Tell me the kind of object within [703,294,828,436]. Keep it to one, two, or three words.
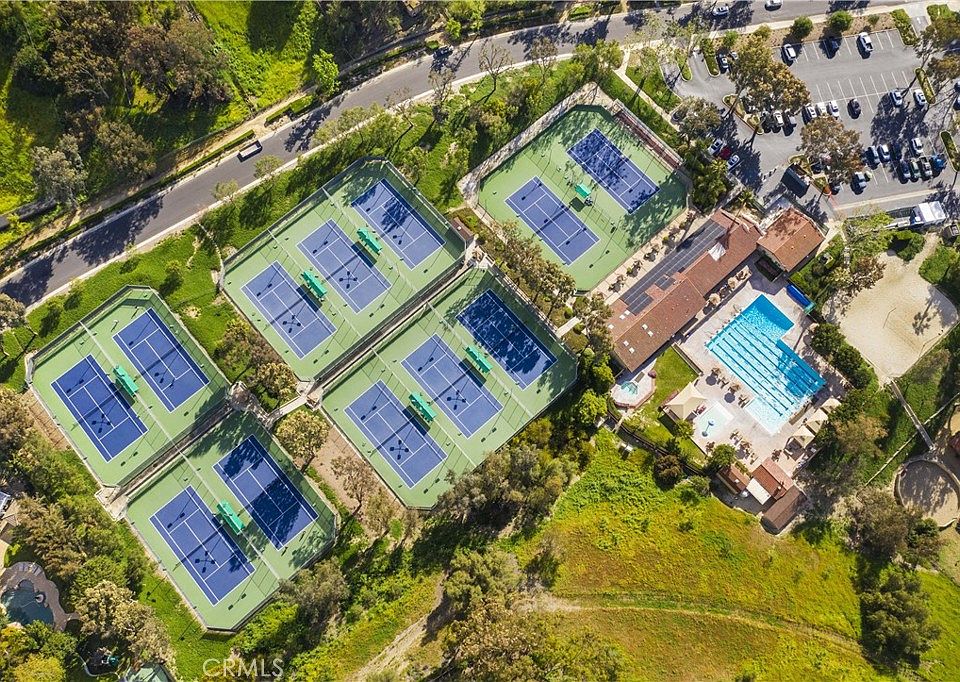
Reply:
swimming pool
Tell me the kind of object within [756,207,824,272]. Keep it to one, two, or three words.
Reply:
building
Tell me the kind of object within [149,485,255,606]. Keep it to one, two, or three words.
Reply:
tennis court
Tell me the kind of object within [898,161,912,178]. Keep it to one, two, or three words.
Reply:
car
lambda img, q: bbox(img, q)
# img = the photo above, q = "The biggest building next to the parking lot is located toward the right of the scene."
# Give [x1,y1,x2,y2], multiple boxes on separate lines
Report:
[606,208,766,371]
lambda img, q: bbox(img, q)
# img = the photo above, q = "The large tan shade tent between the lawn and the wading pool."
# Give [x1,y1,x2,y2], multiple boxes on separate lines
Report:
[663,383,708,423]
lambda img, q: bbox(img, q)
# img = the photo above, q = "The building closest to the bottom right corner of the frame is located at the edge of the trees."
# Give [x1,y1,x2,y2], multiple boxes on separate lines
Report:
[758,486,805,533]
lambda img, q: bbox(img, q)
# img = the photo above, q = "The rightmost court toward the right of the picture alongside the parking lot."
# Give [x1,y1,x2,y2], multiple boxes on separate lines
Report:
[822,231,957,382]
